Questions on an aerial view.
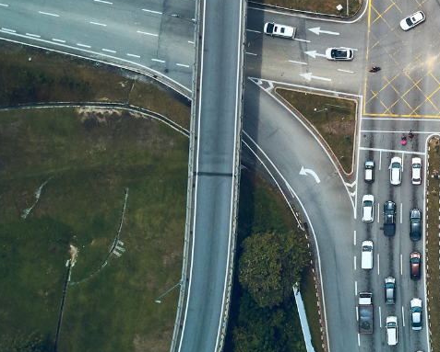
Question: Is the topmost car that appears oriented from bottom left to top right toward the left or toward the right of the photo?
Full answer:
The topmost car that appears oriented from bottom left to top right appears in the right half of the scene.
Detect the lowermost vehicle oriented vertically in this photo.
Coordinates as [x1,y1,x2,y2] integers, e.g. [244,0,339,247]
[386,315,399,346]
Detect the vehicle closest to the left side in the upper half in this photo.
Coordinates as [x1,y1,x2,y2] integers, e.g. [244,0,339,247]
[265,22,297,38]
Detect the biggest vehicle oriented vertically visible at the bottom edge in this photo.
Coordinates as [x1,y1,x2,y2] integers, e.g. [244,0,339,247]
[356,291,374,336]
